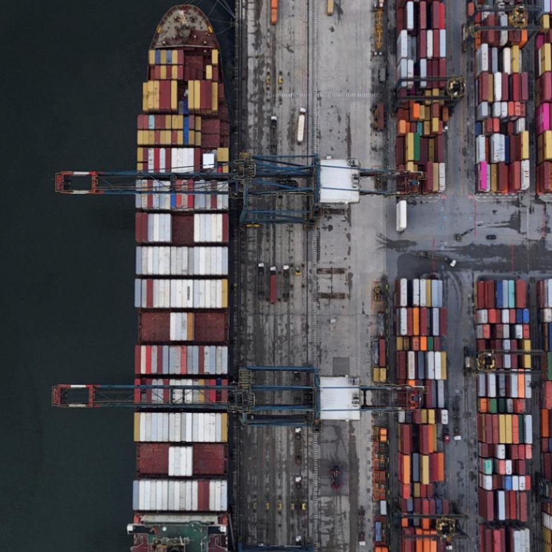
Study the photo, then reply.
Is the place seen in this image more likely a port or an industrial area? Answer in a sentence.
What you see here is a port.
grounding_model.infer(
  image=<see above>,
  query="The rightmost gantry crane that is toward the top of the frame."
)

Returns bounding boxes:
[466,6,541,50]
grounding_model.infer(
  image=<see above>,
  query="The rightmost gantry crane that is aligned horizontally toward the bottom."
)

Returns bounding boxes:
[468,347,545,377]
